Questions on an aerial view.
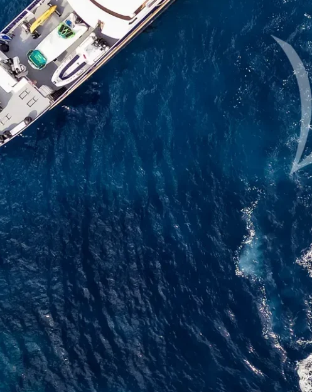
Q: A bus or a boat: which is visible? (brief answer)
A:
boat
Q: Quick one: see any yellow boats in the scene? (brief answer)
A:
Yes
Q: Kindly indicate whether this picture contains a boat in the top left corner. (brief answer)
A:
Yes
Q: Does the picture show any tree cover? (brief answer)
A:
No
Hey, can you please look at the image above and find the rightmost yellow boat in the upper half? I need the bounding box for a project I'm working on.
[21,2,64,38]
